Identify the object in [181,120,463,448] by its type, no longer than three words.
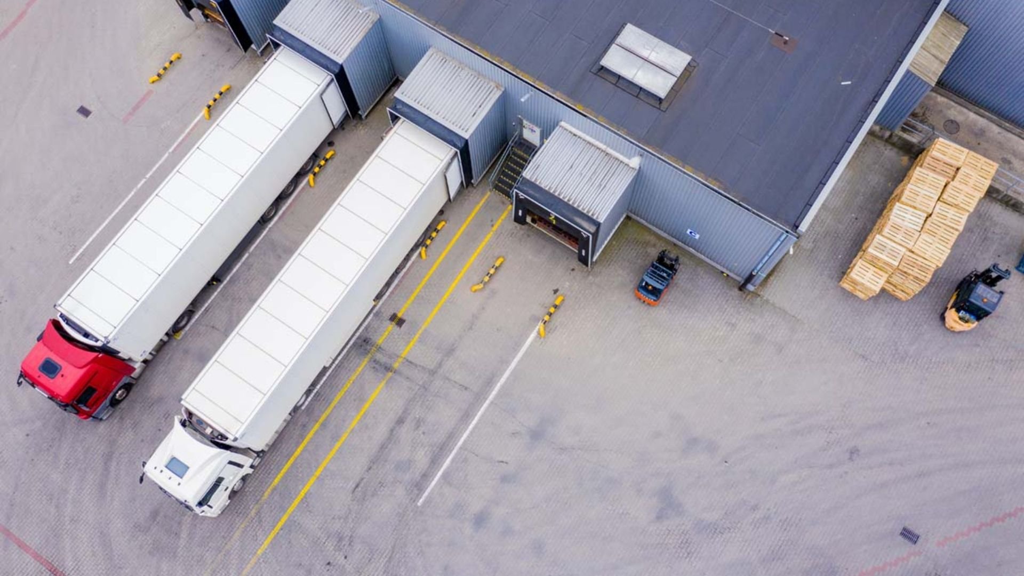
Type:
trailer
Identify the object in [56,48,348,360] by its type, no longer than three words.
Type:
trailer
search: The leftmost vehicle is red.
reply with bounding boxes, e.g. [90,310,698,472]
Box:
[22,319,157,425]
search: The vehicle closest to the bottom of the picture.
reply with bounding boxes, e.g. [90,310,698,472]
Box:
[142,393,306,520]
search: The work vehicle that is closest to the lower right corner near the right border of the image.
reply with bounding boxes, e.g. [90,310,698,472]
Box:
[937,263,1012,336]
